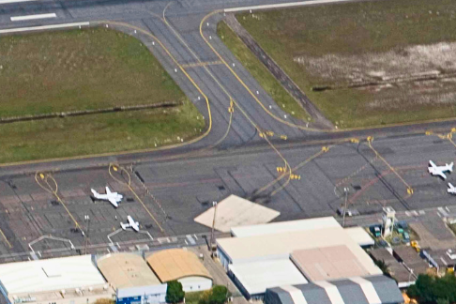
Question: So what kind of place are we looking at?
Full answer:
This image shows an airport.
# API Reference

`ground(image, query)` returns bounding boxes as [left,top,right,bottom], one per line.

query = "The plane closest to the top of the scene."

[428,161,456,176]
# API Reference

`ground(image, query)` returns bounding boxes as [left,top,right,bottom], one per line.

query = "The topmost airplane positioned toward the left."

[89,186,122,205]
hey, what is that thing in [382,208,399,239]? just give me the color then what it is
white water tower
